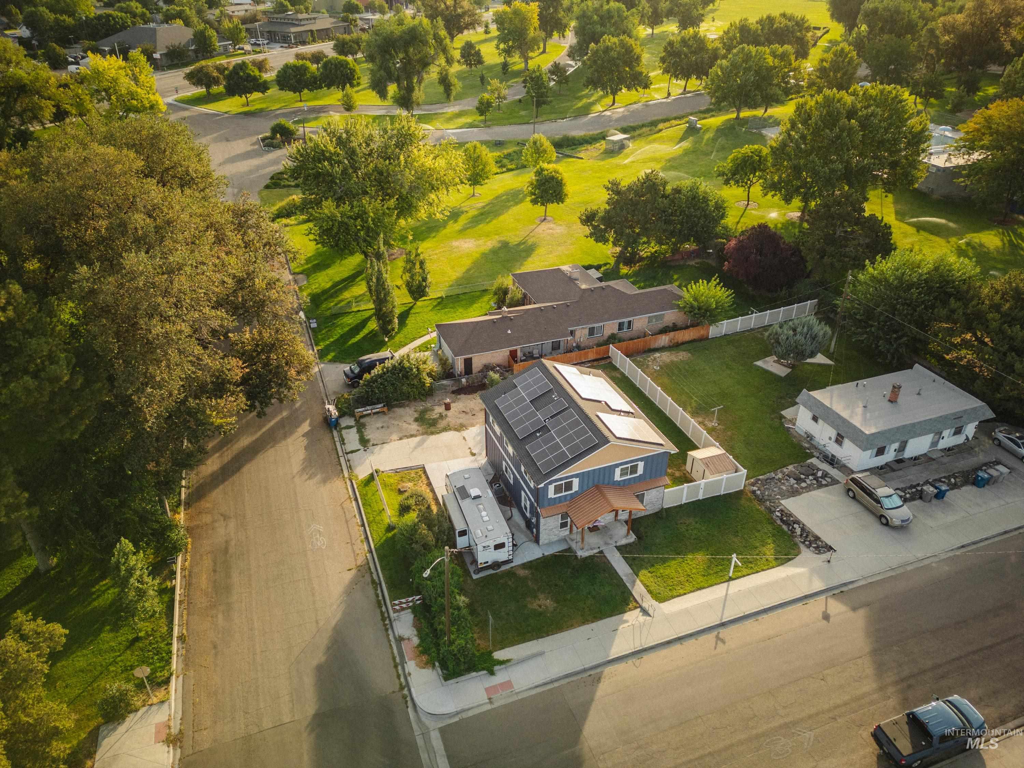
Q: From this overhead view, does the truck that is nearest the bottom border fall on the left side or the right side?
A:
right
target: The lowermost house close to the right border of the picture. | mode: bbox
[795,364,997,474]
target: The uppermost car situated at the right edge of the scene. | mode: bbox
[991,424,1024,456]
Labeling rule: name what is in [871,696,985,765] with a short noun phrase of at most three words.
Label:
truck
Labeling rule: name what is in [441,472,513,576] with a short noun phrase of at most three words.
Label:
vehicle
